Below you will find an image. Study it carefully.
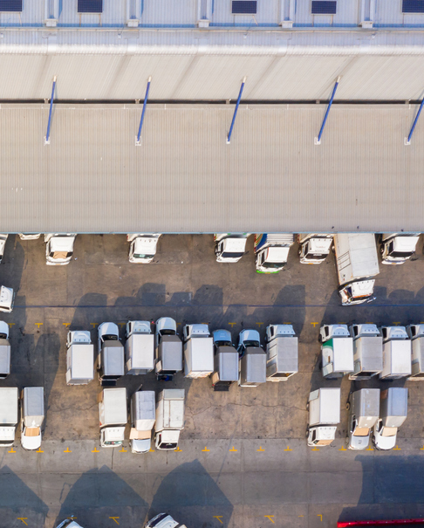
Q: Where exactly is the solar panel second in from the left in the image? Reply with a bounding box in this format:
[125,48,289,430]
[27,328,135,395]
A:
[77,0,103,23]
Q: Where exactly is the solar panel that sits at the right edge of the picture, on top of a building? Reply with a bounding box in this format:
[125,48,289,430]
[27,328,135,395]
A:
[403,0,424,24]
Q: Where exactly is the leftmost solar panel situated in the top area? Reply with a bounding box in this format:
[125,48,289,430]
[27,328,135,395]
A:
[0,0,23,23]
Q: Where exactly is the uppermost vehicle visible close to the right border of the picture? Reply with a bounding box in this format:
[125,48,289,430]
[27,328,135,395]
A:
[381,235,417,266]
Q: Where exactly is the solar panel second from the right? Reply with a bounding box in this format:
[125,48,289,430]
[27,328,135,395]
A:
[312,0,338,24]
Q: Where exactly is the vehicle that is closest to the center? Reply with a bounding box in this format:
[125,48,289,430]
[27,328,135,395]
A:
[215,235,245,263]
